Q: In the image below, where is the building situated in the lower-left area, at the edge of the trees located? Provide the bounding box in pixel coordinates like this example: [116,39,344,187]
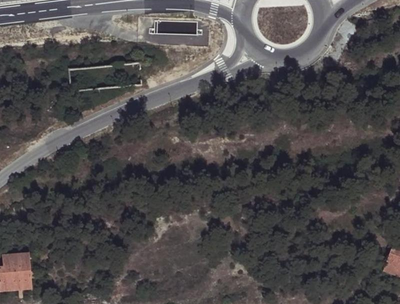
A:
[0,254,33,298]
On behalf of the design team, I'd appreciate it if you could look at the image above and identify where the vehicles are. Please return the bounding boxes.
[334,8,344,18]
[264,46,275,54]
